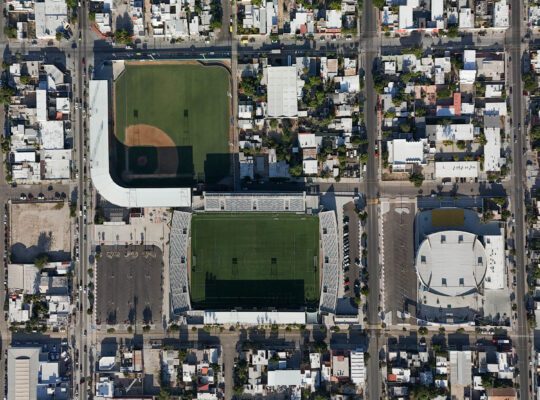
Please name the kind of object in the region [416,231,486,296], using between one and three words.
stadium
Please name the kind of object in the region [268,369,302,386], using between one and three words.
building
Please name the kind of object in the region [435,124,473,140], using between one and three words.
building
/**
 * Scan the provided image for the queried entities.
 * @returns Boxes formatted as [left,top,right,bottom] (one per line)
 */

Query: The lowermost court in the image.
[432,210,464,226]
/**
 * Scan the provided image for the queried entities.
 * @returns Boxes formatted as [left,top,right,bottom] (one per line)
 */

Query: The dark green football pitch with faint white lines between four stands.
[187,212,323,310]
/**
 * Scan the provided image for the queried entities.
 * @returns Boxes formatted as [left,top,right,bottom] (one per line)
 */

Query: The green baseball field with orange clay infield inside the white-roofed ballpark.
[112,61,232,186]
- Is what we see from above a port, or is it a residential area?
residential area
